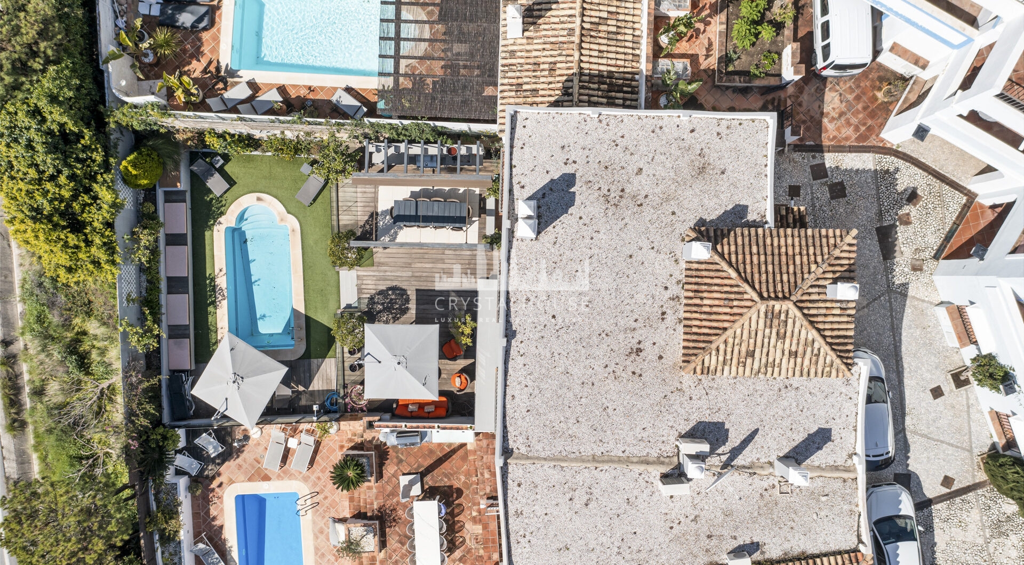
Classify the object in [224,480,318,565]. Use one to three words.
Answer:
swimming pool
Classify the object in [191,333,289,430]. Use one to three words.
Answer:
umbrella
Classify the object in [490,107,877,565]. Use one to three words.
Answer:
house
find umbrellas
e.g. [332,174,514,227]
[345,324,439,400]
[191,333,289,430]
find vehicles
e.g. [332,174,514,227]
[805,0,874,77]
[853,345,903,474]
[866,479,928,565]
